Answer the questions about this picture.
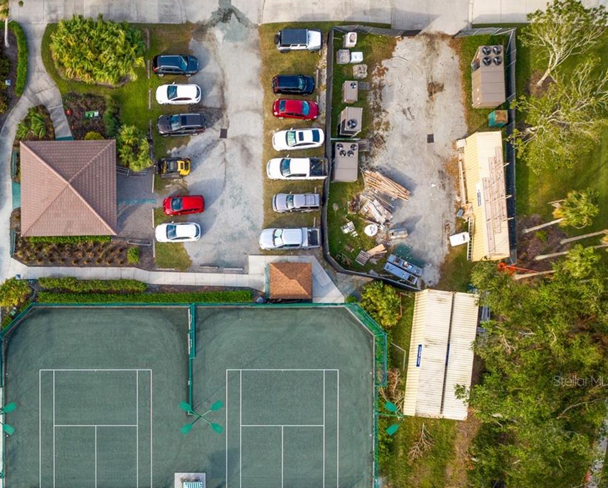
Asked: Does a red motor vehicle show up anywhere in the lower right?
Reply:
No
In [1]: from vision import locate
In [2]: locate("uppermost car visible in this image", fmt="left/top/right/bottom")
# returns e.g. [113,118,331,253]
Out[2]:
[272,27,321,53]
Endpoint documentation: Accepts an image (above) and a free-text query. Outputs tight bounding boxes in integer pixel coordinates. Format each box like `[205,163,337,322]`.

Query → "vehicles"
[153,52,199,77]
[155,82,202,107]
[157,111,207,136]
[270,191,322,214]
[271,128,325,152]
[259,226,322,250]
[271,98,318,122]
[266,156,328,182]
[155,221,202,242]
[162,194,205,216]
[157,159,188,178]
[270,73,315,97]
[272,27,321,53]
